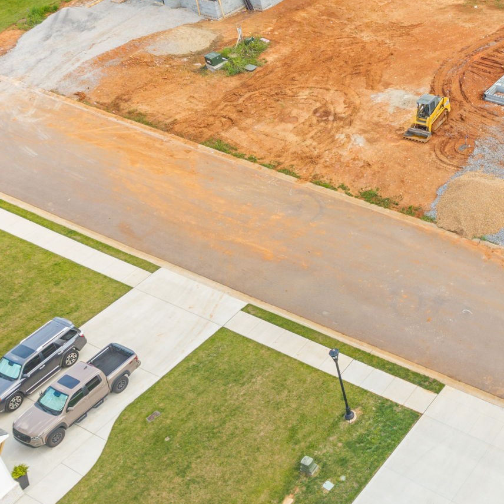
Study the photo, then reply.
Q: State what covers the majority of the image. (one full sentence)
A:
The scene is dominated by paved ground.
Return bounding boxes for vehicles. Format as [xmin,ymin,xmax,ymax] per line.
[0,317,88,418]
[5,346,133,456]
[404,95,450,140]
